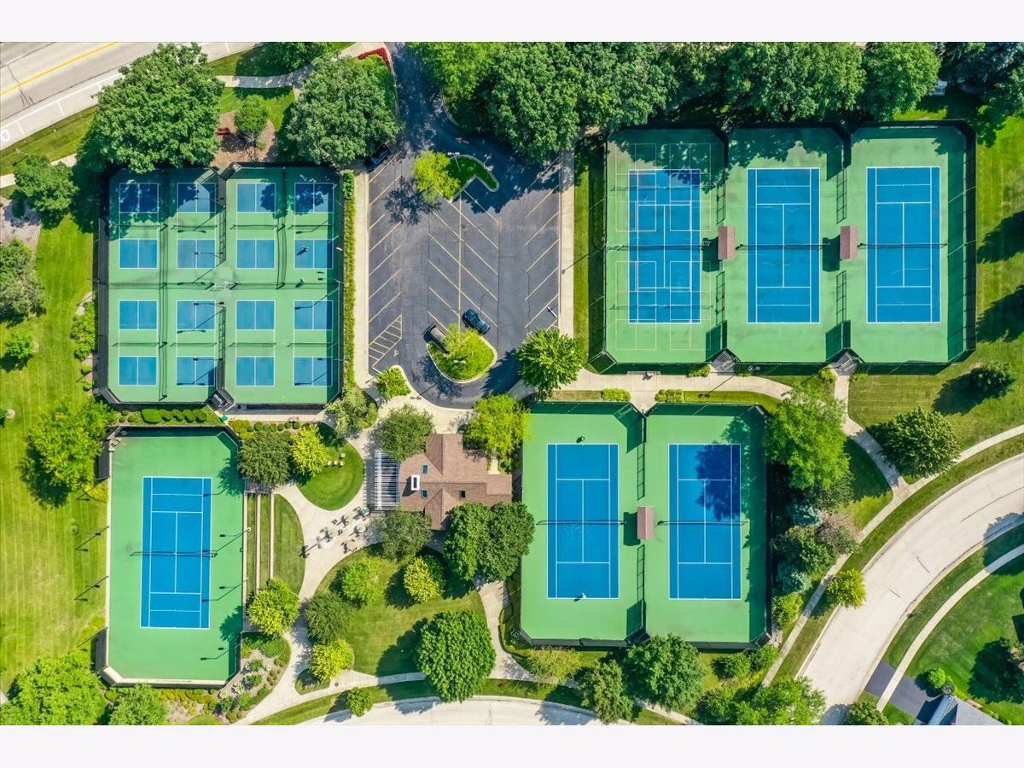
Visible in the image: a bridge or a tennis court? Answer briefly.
tennis court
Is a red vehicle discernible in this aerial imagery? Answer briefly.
No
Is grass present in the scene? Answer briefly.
Yes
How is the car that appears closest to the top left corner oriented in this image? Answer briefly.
on a diagonal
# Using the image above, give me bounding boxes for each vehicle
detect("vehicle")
[461,308,491,334]
[421,325,450,351]
[363,142,393,171]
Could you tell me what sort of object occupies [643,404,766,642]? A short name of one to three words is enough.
tennis court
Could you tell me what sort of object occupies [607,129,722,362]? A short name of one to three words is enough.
tennis court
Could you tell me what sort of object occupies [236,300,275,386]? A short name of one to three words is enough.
sports court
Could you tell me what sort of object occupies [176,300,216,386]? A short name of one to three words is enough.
sports court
